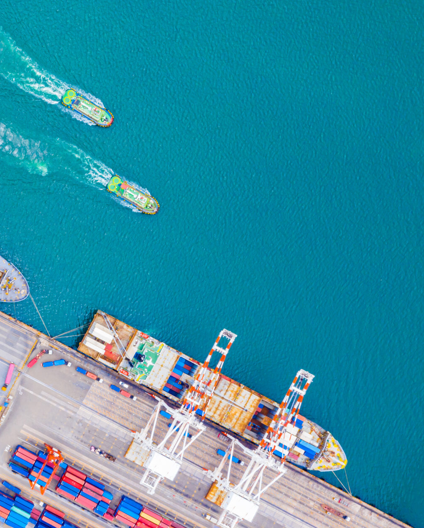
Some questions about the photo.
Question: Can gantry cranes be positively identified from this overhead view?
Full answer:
Yes, a gantry crane is visible in the scene.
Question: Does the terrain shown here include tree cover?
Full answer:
No, tree cover can't be seen anywhere here.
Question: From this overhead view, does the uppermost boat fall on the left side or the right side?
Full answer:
The uppermost boat appears in the left half of the scene.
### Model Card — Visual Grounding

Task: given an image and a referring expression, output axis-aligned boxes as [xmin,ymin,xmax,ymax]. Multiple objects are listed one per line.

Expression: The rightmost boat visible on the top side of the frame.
[105,177,160,215]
